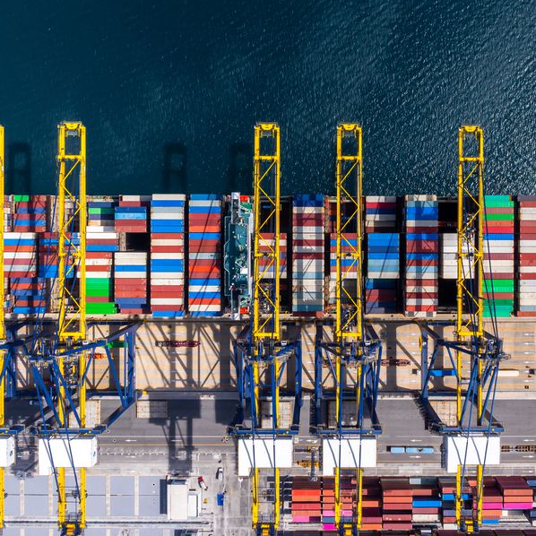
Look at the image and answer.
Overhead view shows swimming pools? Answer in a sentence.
No, I find no swimming pool anywhere in the image.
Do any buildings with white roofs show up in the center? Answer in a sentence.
No, no building with a white roof can be made out in the center.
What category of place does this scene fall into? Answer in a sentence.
The area seen from above is a port.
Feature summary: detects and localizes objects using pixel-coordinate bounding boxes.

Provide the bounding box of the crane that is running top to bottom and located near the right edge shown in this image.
[417,121,512,535]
